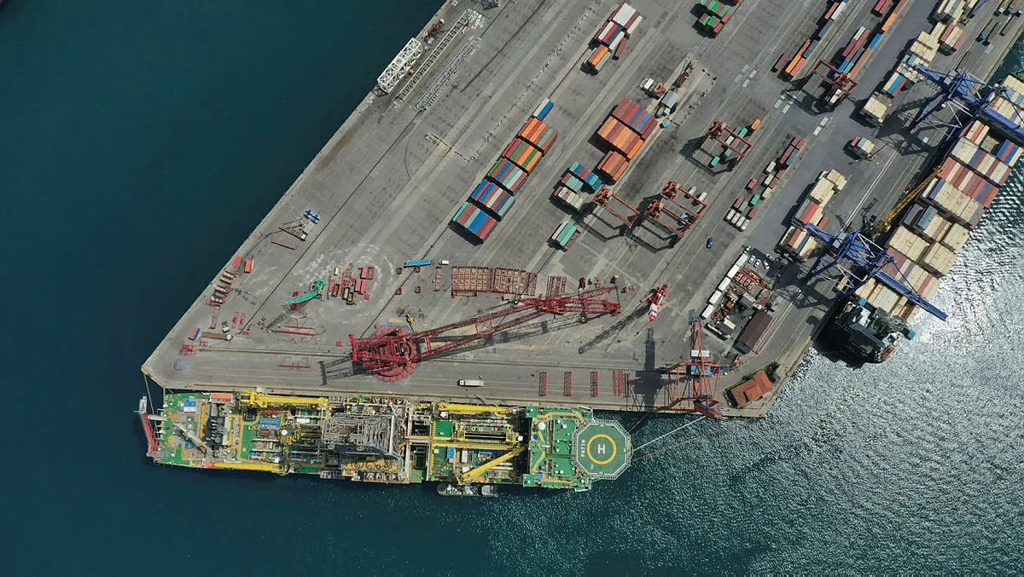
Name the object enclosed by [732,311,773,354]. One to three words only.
building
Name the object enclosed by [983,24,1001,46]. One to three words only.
vehicle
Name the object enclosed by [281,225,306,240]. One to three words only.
vehicle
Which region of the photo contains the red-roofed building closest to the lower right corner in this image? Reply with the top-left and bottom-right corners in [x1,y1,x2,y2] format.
[725,367,777,408]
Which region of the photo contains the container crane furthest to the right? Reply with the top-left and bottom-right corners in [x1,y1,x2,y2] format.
[909,59,1024,145]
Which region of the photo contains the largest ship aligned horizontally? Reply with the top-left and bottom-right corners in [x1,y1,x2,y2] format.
[135,389,636,492]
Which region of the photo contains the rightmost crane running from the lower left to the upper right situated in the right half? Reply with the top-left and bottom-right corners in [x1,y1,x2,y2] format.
[862,167,940,240]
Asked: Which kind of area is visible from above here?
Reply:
port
